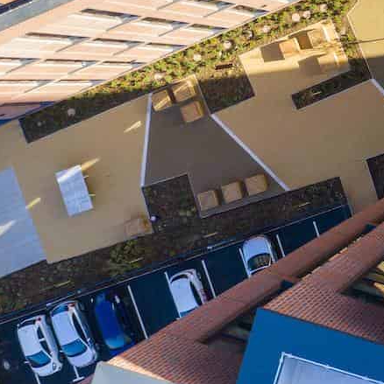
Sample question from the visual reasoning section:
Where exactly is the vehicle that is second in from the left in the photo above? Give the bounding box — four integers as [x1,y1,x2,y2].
[43,300,98,372]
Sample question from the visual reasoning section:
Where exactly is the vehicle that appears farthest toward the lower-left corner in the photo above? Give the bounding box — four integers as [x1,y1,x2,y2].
[8,315,61,380]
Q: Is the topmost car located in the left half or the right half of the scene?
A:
right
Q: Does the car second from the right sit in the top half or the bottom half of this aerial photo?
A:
bottom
